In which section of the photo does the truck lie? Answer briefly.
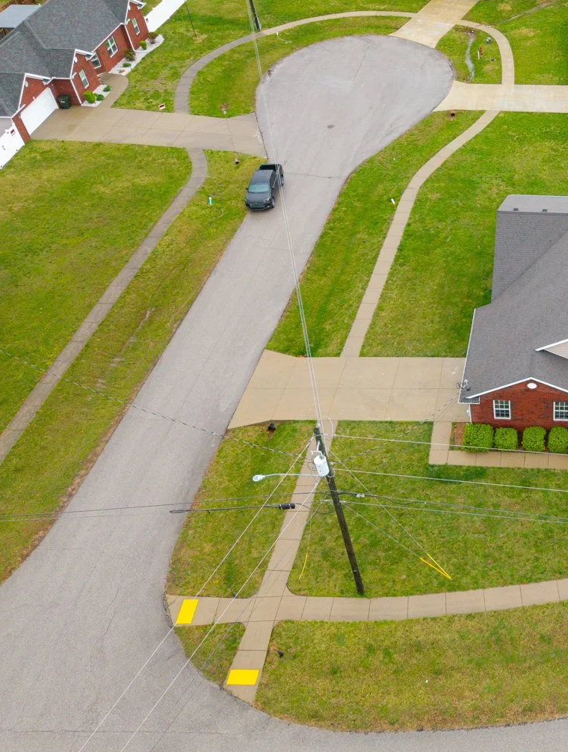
top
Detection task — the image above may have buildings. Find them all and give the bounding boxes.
[457,194,568,428]
[0,0,151,143]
